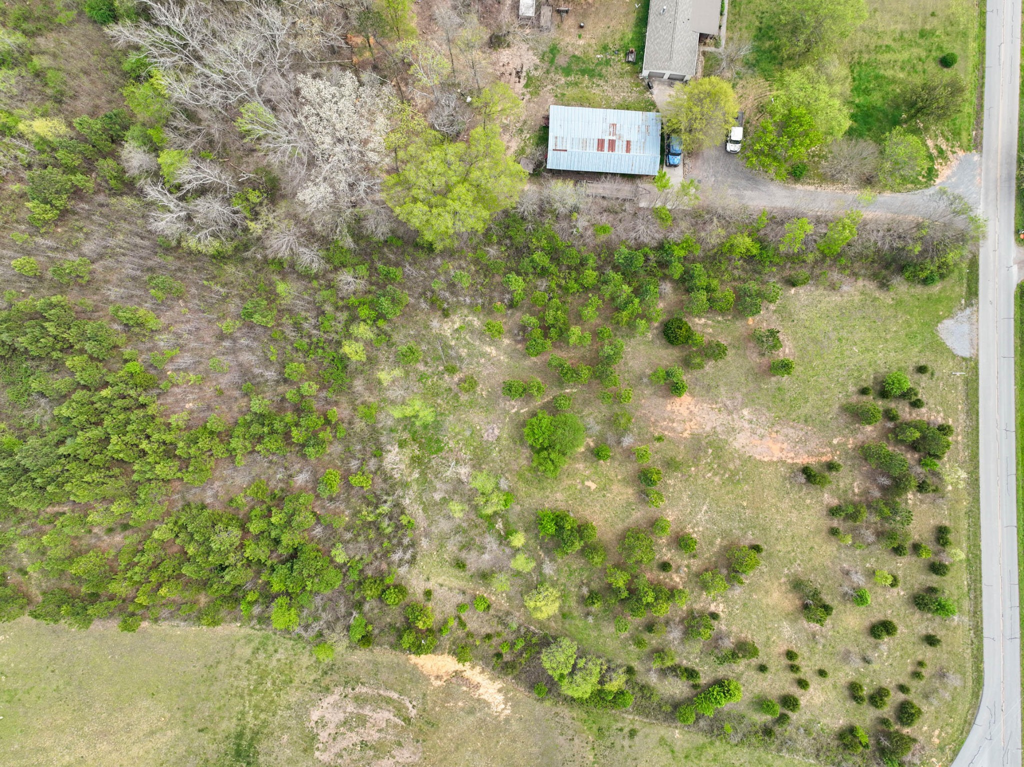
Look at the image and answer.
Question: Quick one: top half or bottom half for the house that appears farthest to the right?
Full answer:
The house that appears farthest to the right sits in the top half of the picture.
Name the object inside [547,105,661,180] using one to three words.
shed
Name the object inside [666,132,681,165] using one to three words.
car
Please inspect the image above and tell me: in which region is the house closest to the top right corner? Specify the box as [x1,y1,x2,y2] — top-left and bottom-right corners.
[643,0,724,79]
